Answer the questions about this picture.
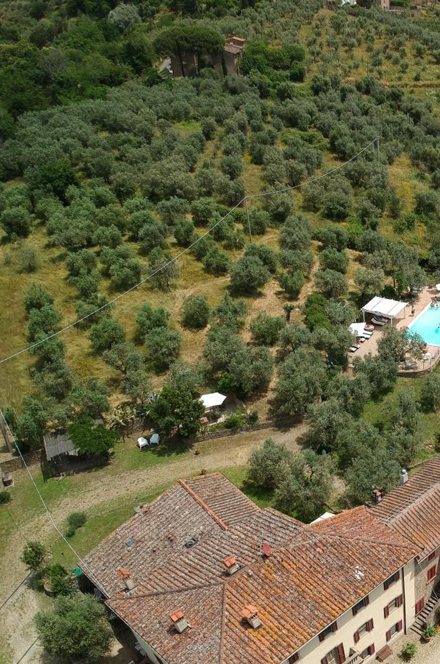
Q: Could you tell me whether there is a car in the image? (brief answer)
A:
No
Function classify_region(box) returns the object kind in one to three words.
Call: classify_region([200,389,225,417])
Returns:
umbrella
